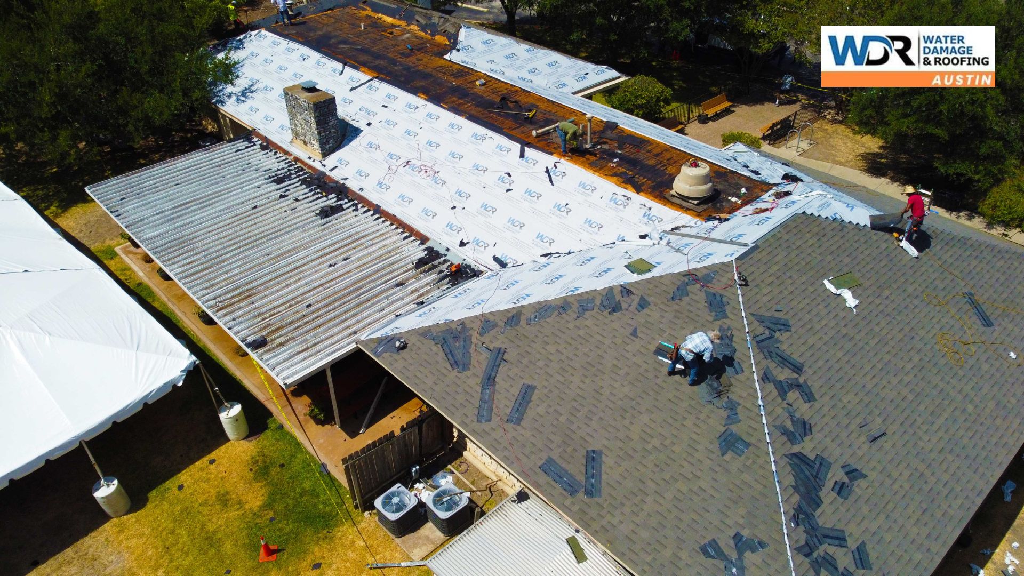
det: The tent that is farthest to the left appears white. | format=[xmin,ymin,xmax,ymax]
[0,188,222,487]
